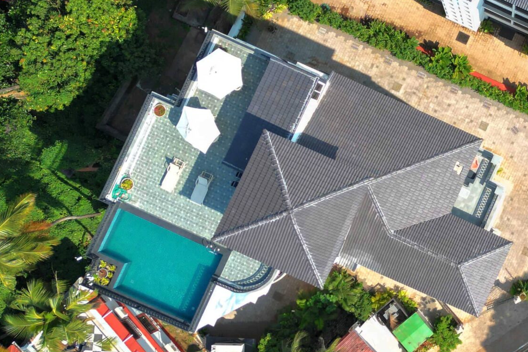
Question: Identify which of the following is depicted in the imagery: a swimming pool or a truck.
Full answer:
I can see a swimming pool in this picture.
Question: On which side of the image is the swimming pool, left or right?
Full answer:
You can find the swimming pool on the left side of the picture.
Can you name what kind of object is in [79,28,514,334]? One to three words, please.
house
